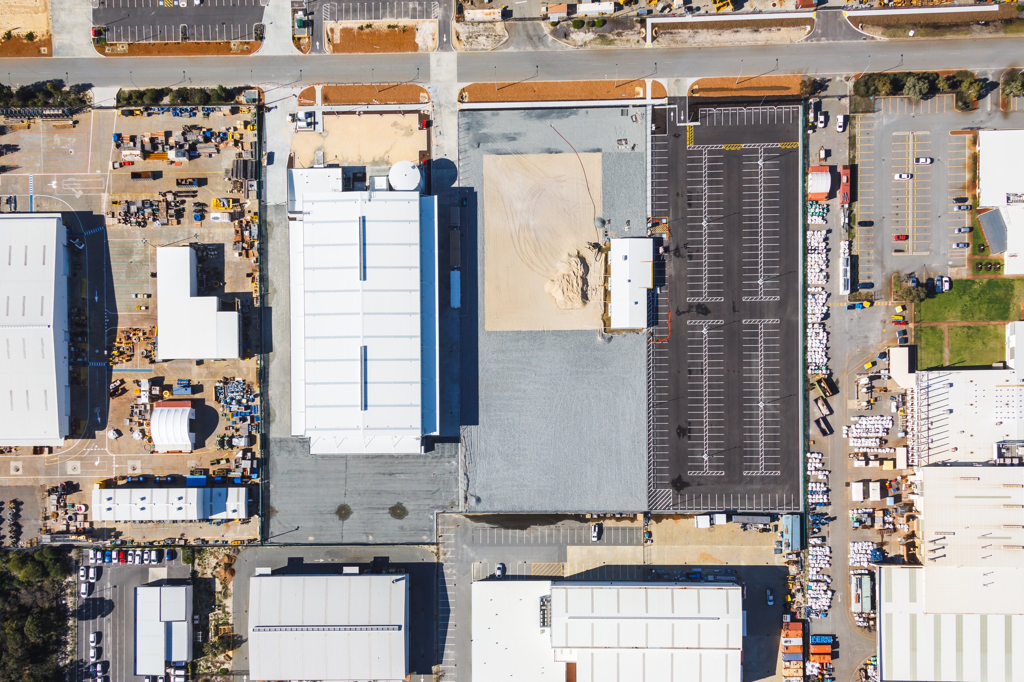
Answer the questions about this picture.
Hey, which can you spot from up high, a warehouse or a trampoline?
warehouse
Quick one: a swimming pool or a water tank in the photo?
water tank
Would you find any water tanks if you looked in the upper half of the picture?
Yes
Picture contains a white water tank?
Yes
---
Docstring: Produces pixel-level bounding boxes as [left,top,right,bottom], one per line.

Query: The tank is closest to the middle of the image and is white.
[389,160,424,192]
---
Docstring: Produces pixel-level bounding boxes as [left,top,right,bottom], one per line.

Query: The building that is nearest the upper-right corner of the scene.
[972,130,1024,211]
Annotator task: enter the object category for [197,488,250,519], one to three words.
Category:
shed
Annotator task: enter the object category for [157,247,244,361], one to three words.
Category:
building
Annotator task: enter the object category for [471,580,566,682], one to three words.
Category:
building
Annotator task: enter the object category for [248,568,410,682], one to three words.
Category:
warehouse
